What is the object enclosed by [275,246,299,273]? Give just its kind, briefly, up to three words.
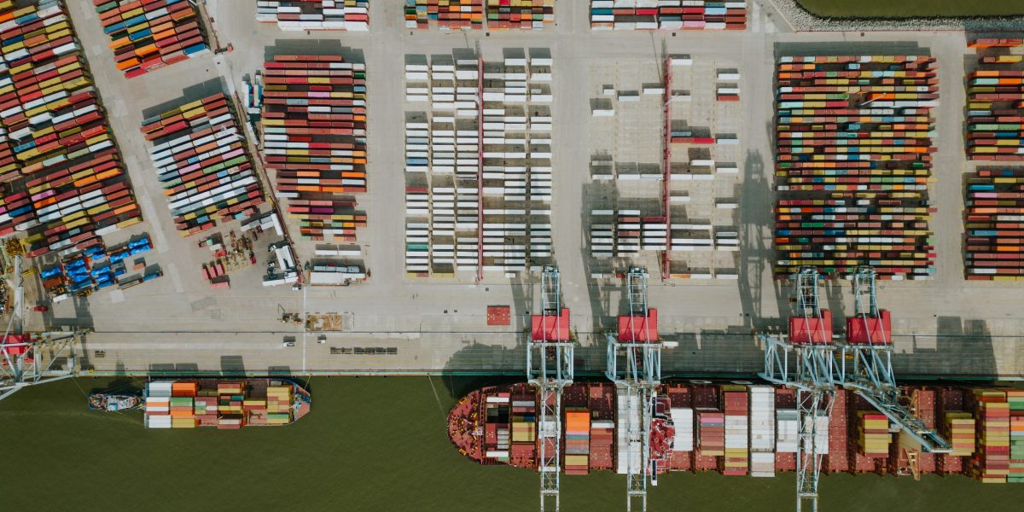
building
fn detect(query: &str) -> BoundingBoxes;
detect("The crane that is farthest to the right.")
[823,266,958,449]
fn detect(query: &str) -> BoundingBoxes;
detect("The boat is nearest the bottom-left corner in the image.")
[87,391,141,412]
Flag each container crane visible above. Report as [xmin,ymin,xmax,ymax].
[595,267,678,512]
[518,266,577,512]
[750,267,835,512]
[0,266,95,404]
[823,266,958,449]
